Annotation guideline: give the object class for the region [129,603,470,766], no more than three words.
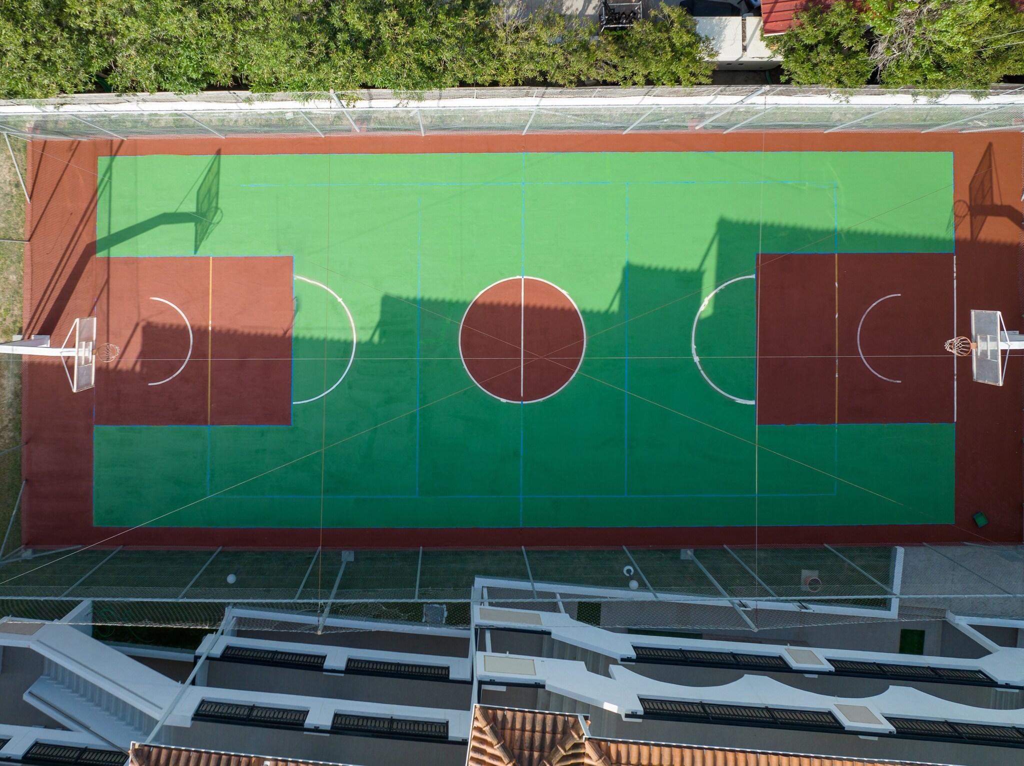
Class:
house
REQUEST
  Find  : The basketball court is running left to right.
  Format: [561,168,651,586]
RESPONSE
[19,127,1024,555]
